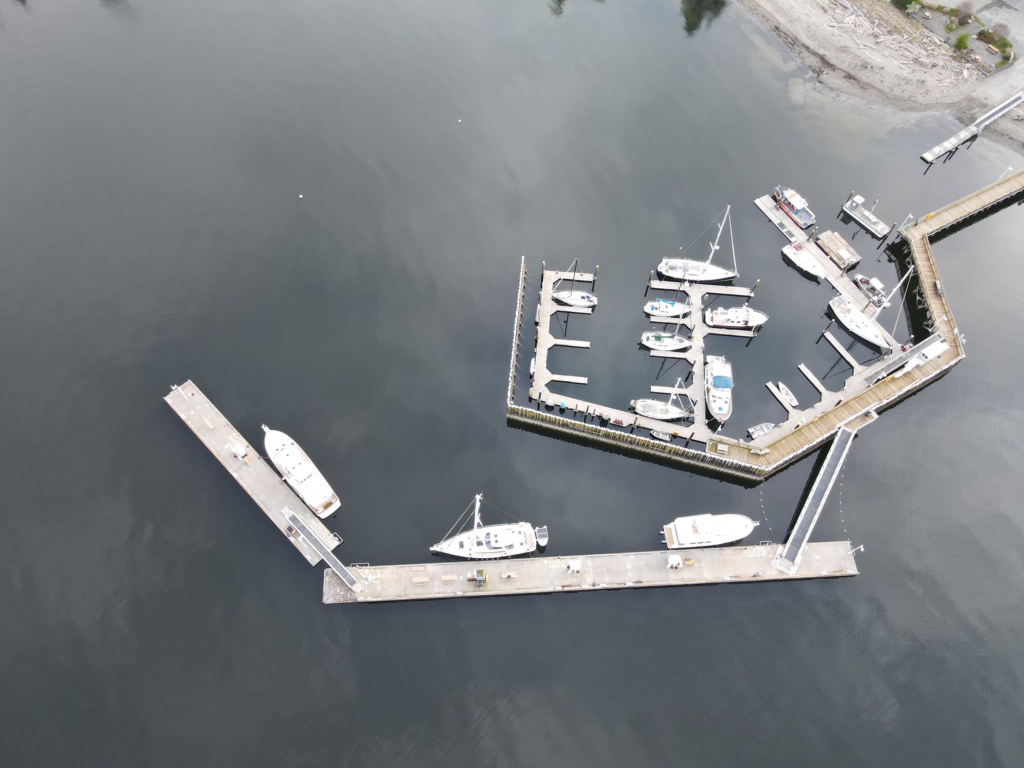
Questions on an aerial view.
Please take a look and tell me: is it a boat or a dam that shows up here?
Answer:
boat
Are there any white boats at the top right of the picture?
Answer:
Yes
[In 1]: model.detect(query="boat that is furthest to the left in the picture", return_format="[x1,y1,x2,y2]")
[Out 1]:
[259,421,344,522]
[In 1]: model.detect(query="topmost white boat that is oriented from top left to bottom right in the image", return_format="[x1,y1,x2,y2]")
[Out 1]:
[775,183,818,230]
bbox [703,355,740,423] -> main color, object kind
white boat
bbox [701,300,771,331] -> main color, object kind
white boat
